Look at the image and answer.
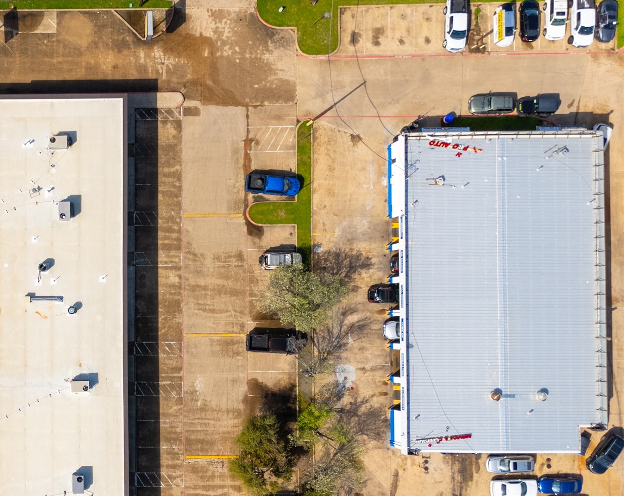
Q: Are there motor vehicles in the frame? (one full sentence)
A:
Yes, there's a motor vehicle here.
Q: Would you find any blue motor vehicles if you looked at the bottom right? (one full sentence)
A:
Yes, there is a blue motor vehicle at the bottom right.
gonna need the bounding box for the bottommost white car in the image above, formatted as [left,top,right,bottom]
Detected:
[488,477,534,496]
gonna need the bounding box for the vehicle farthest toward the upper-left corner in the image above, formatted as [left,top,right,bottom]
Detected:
[244,173,300,197]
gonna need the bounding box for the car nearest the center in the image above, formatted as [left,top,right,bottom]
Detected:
[260,250,304,271]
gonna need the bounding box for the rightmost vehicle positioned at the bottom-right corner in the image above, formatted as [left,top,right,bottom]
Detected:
[583,427,624,475]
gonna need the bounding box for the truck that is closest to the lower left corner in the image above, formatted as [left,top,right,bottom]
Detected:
[246,331,303,353]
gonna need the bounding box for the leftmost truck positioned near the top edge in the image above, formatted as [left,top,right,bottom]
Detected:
[444,0,470,52]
